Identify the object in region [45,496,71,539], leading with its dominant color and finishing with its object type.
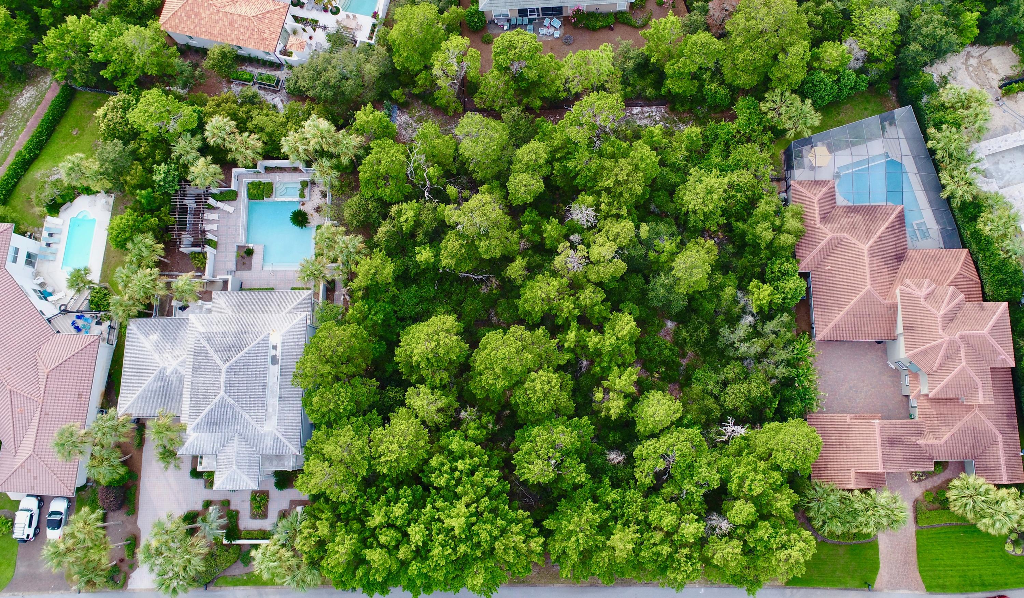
white car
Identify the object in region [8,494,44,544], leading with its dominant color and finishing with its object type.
white car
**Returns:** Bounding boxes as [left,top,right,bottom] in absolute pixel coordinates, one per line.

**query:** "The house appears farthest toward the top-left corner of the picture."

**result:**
[159,0,296,59]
